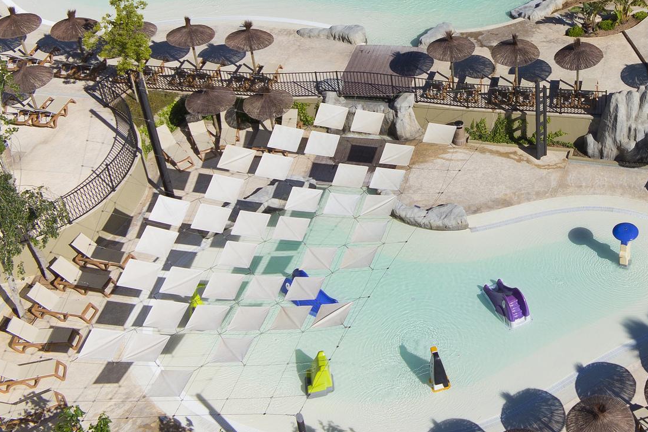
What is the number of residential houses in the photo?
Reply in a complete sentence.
The count of residential houses is 0.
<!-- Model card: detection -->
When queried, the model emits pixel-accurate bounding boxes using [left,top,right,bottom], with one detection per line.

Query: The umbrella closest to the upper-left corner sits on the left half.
[0,6,41,63]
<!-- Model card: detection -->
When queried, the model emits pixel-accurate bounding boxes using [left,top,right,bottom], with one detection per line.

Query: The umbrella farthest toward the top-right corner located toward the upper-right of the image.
[551,33,602,92]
